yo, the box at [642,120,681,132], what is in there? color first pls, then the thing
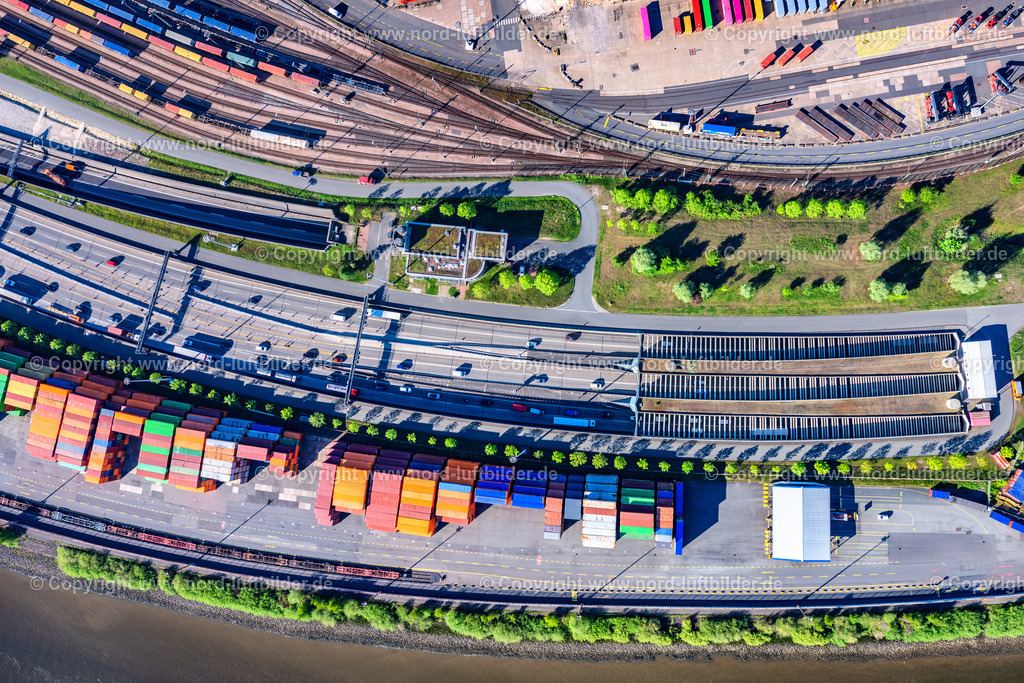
white vehicle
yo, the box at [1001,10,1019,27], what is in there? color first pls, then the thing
blue work vehicle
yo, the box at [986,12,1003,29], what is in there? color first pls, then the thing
red work vehicle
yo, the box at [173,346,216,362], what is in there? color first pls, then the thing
white vehicle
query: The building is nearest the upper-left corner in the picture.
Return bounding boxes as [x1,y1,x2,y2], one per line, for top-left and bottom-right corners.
[404,221,510,281]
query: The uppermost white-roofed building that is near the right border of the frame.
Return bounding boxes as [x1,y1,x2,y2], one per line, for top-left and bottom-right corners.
[957,340,997,399]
